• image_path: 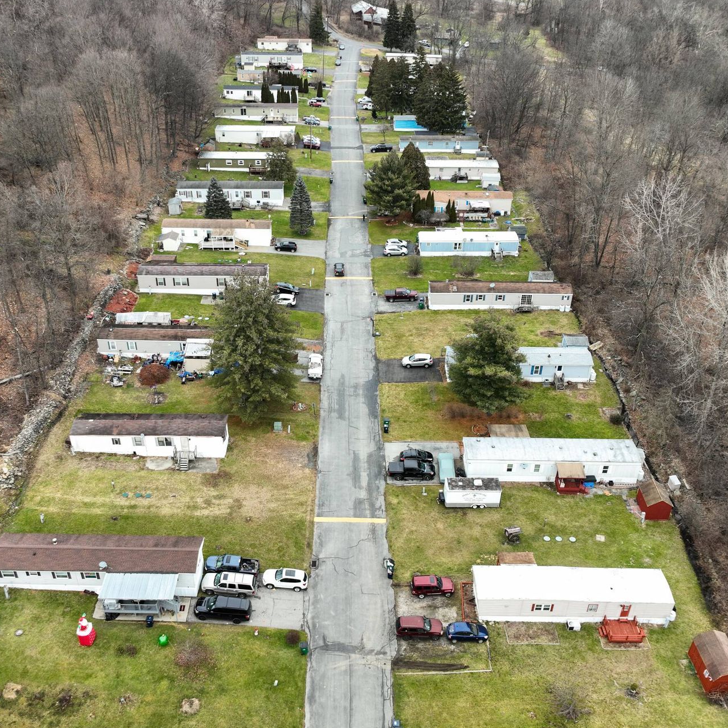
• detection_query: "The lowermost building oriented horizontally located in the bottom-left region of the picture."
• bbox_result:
[0,532,208,615]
